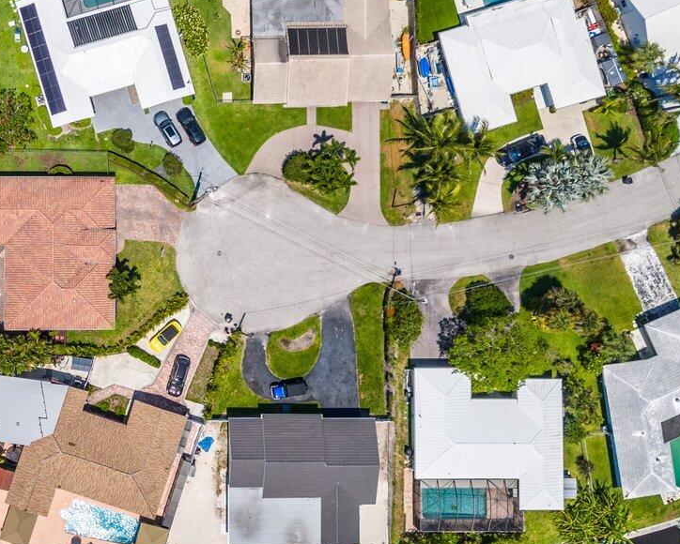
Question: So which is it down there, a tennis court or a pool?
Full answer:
The image shows a pool.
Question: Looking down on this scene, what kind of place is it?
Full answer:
The picture captures a residential area.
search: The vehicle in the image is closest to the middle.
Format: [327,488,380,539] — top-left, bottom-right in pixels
[268,376,311,399]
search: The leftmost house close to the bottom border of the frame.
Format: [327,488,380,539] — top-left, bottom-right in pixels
[0,378,188,519]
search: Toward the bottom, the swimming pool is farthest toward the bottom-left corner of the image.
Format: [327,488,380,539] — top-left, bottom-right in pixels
[59,498,141,544]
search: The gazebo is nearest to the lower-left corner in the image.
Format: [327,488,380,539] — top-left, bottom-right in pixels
[1,505,38,544]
